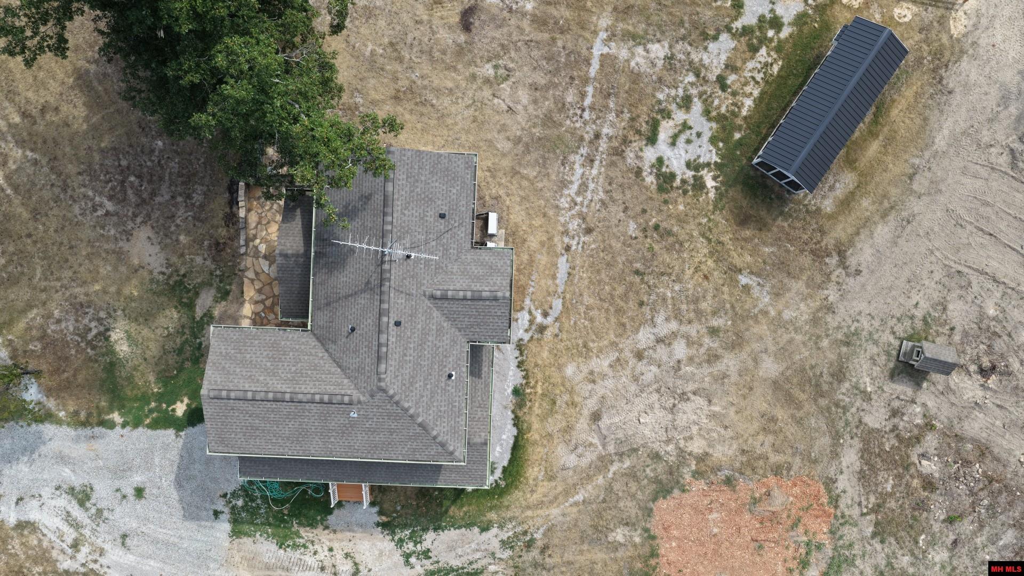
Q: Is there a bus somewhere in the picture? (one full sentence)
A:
No, there's no bus here.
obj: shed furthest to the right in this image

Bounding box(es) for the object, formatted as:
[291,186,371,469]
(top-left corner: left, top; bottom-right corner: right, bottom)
[896,339,961,375]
